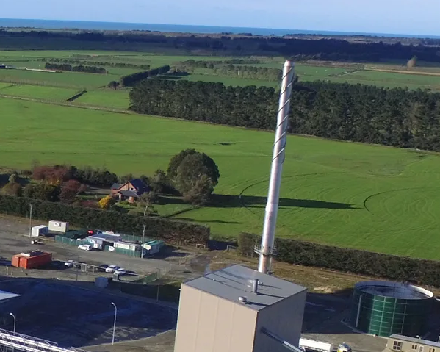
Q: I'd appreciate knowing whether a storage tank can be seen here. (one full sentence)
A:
Yes, the photo shows a storage tank.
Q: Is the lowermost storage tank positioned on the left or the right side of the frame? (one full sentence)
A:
The lowermost storage tank is on the right side of the image.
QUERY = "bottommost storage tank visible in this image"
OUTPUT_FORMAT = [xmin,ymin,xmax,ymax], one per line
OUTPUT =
[342,280,439,338]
